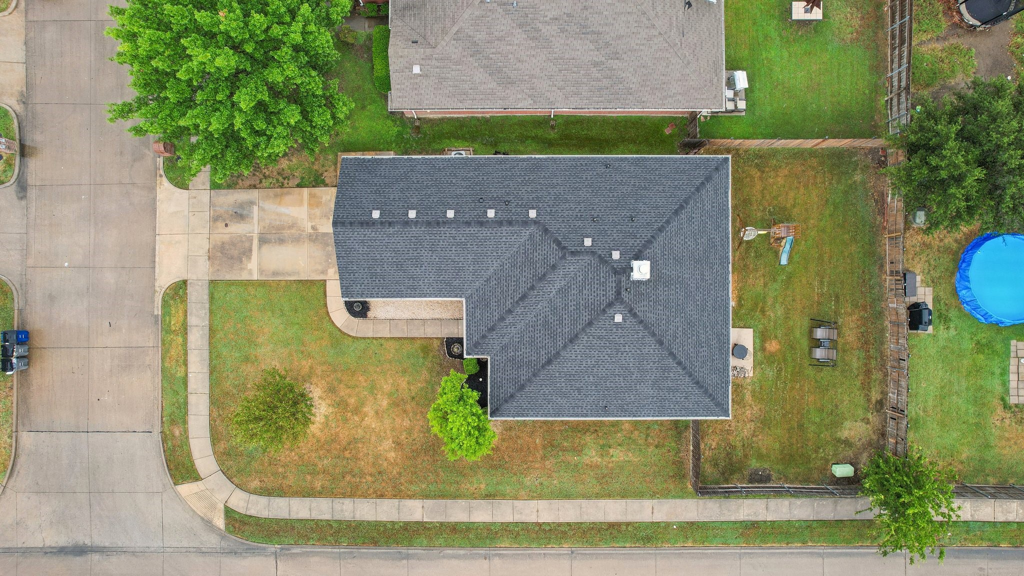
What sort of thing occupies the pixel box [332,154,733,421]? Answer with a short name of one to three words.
house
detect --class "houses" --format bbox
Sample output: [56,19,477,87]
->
[263,0,726,122]
[332,154,733,421]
